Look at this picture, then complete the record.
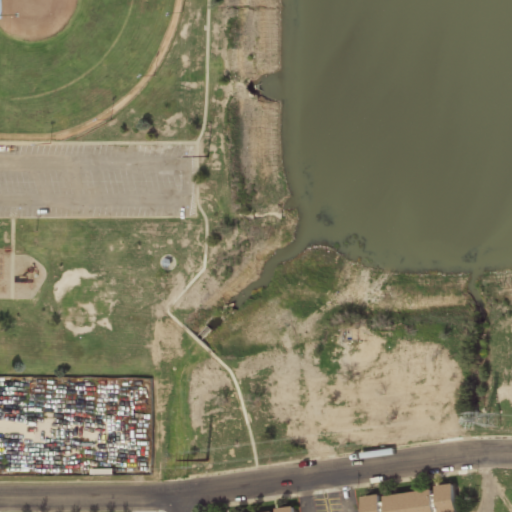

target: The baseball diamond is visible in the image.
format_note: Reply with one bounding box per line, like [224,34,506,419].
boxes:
[0,0,184,140]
